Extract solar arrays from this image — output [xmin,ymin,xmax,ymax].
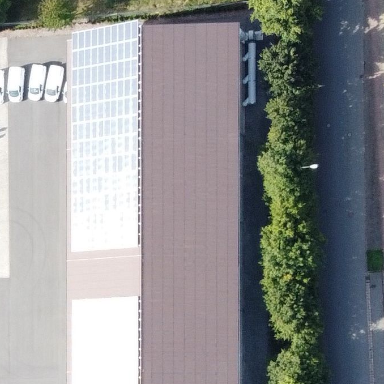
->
[72,296,137,384]
[71,20,137,252]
